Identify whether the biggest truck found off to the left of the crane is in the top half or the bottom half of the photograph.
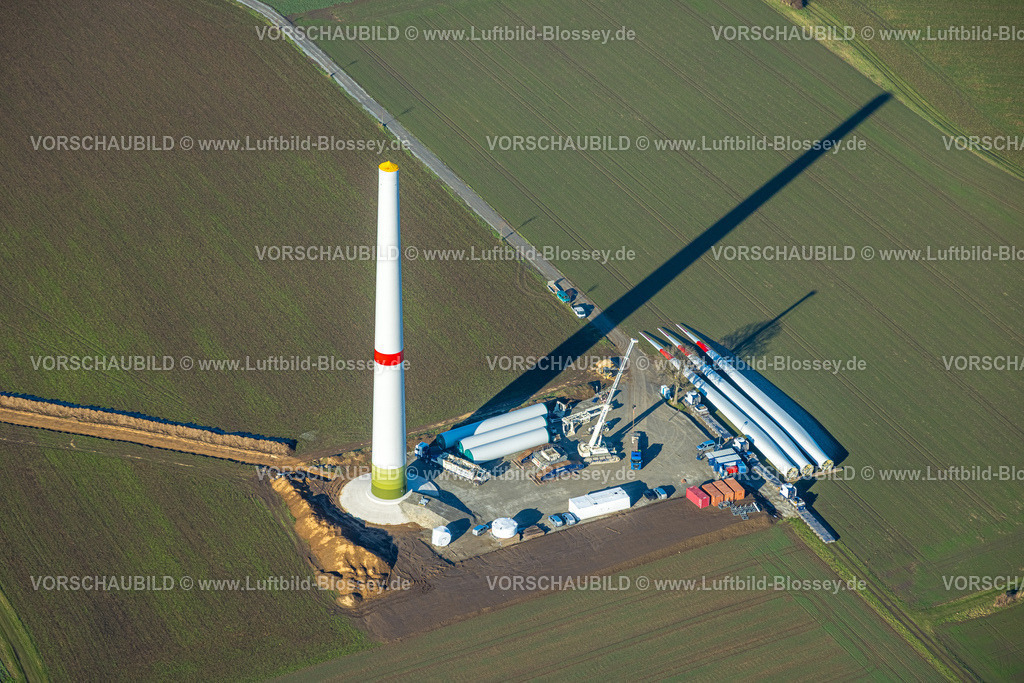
bottom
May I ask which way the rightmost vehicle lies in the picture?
on a diagonal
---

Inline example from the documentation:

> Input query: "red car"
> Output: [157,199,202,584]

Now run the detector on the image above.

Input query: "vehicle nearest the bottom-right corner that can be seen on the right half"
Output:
[781,485,841,543]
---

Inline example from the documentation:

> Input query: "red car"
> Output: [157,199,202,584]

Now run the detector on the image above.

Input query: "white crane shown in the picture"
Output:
[580,339,640,465]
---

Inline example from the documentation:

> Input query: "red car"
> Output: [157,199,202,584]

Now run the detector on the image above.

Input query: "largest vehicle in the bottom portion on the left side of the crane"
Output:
[413,442,491,483]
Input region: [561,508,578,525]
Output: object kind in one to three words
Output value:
car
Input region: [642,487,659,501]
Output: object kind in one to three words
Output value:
car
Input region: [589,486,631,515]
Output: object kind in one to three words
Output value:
building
